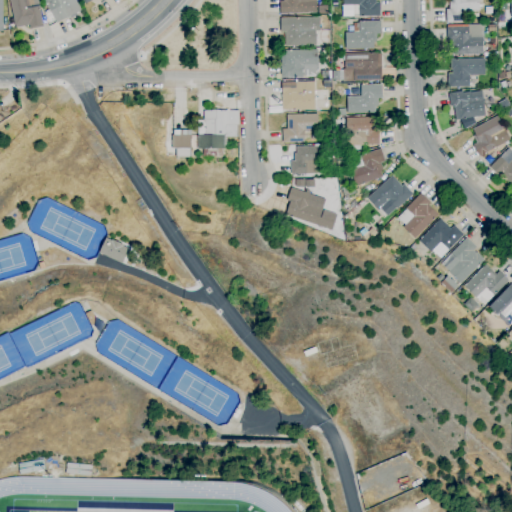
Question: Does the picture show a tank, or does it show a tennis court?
tennis court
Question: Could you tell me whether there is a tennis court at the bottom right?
No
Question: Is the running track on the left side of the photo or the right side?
left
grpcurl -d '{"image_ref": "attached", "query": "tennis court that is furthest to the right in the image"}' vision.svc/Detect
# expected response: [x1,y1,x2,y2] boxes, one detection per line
[160,356,240,422]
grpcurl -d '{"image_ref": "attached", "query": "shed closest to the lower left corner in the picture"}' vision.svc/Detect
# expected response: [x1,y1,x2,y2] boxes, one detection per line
[19,460,46,475]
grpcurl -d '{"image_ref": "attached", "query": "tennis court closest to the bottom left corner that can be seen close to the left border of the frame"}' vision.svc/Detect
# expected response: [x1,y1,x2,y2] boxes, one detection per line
[0,332,28,380]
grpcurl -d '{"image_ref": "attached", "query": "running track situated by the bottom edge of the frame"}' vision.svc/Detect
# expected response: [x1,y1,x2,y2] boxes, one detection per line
[0,477,289,512]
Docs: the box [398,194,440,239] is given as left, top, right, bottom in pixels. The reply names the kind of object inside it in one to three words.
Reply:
house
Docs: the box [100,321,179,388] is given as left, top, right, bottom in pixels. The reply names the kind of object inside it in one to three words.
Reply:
tennis court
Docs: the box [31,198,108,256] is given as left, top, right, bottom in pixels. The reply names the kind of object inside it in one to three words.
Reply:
tennis court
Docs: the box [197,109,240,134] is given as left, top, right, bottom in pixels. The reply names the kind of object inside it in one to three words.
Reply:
building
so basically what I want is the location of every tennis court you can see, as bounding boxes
[11,302,92,366]
[160,356,240,422]
[0,332,28,380]
[0,234,36,277]
[31,198,108,256]
[100,321,179,388]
